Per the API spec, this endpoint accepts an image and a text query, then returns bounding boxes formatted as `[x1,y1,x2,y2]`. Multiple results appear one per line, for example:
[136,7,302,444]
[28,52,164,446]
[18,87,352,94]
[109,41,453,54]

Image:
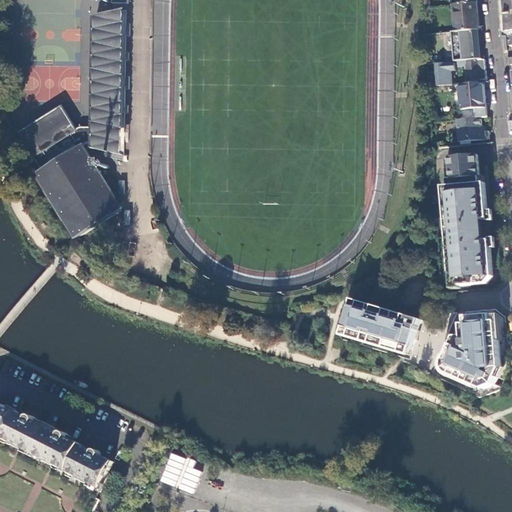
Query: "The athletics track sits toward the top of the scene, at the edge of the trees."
[170,0,378,277]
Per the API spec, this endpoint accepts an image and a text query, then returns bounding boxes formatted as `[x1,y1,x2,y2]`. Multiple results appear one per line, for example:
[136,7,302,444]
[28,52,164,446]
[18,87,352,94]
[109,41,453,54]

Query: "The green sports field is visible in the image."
[175,0,366,272]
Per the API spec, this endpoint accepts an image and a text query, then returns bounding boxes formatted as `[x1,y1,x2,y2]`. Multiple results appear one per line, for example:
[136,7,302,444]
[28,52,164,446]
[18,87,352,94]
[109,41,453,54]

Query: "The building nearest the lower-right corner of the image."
[436,310,510,399]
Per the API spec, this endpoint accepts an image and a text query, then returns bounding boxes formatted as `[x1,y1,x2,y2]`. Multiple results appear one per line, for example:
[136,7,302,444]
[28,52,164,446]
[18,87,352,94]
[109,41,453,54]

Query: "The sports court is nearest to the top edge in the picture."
[14,0,81,66]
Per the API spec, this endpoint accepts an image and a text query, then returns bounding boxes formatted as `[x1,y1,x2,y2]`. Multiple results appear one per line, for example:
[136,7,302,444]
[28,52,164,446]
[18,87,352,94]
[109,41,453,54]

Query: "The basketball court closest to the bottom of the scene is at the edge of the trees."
[16,66,80,102]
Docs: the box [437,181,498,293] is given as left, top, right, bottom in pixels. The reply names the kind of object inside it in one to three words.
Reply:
building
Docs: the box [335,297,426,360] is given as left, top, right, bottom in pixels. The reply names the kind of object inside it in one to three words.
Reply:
building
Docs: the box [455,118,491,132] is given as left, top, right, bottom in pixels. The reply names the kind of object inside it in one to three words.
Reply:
house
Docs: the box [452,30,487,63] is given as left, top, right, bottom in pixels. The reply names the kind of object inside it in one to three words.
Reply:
house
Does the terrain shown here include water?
Yes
